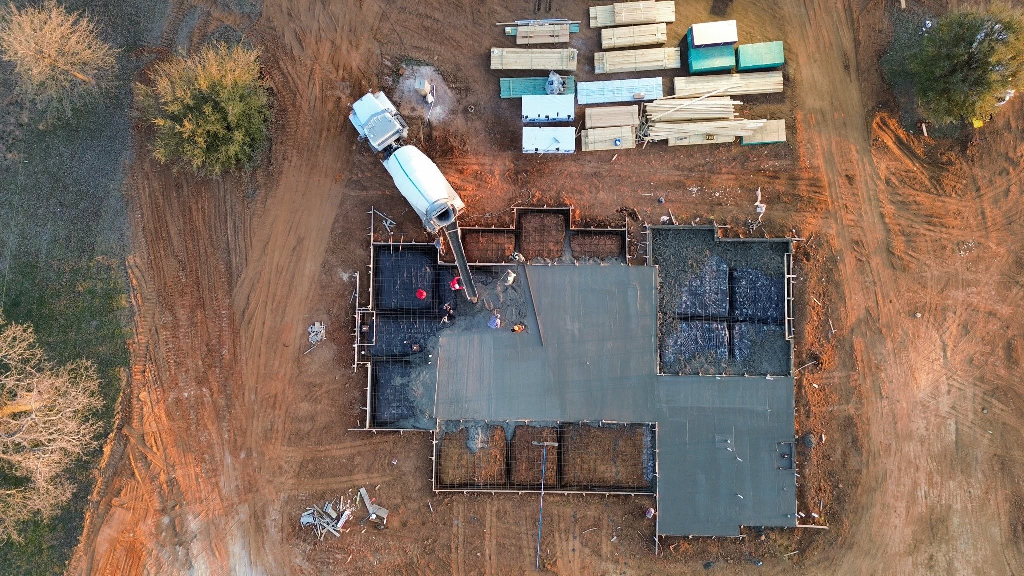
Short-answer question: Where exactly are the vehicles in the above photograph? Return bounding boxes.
[347,90,478,301]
